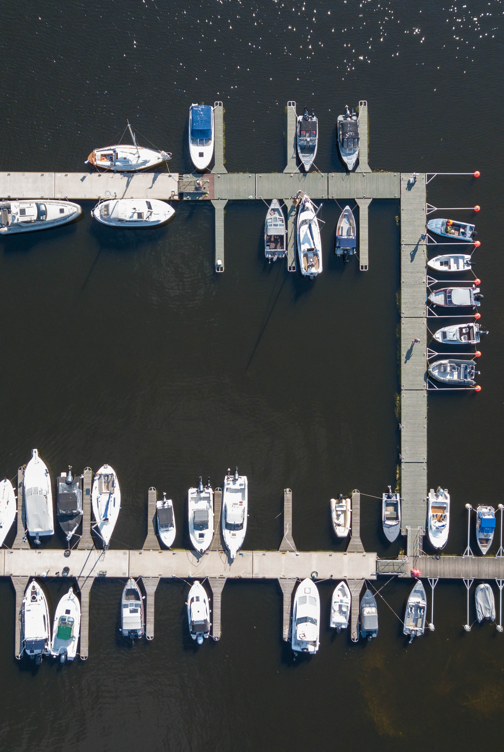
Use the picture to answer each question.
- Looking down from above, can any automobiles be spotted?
No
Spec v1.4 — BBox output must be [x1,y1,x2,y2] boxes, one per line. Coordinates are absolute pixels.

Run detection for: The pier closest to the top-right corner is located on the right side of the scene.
[355,101,371,172]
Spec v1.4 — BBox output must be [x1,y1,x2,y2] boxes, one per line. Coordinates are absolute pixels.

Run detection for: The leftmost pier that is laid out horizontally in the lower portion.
[0,548,378,580]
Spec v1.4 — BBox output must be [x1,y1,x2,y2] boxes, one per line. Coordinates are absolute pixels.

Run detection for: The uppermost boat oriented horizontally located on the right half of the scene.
[425,219,478,242]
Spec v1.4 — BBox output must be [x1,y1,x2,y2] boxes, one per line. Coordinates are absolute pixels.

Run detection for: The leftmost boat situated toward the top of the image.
[0,197,95,232]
